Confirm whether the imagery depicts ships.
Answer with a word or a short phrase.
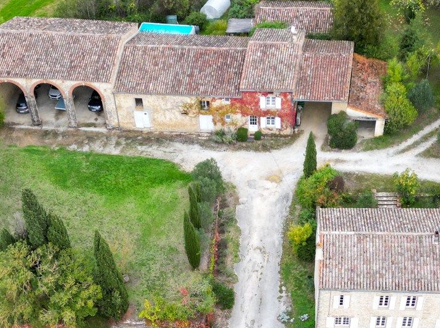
No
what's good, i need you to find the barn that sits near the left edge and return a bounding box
[0,16,141,129]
